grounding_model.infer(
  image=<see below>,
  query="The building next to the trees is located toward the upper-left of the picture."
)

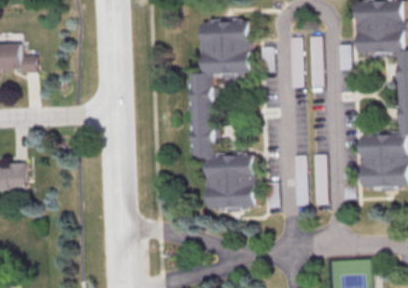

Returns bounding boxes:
[0,32,42,72]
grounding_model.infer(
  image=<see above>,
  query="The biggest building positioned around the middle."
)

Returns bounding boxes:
[188,14,262,214]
